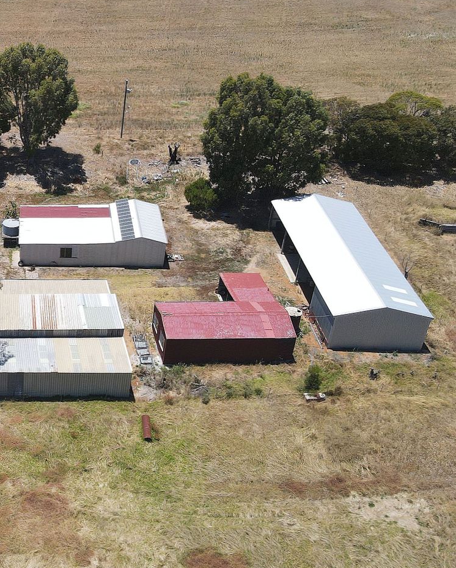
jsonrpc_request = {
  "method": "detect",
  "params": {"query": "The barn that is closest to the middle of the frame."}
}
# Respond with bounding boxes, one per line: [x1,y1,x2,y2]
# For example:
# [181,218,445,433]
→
[151,273,298,363]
